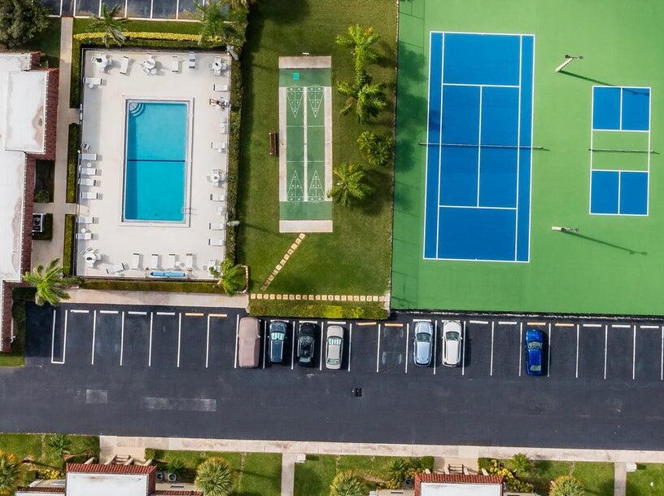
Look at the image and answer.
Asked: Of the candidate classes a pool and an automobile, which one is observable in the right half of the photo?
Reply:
automobile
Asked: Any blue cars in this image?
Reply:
Yes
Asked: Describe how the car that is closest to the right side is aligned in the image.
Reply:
from top to bottom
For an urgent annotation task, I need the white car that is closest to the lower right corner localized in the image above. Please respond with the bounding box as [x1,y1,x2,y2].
[442,320,464,367]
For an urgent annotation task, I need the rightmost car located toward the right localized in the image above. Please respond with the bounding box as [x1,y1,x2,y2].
[524,329,545,376]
